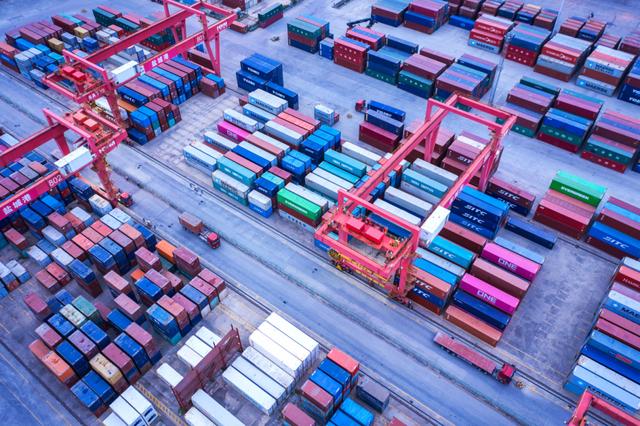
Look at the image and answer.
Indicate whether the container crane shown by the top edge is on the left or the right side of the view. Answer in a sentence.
The container crane shown by the top edge sits on the left side.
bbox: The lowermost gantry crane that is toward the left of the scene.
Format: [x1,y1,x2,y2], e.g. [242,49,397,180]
[0,106,128,219]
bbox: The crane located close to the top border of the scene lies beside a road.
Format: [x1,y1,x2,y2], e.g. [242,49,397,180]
[41,0,239,141]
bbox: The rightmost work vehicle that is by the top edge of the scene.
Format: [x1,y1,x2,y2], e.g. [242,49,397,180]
[346,11,382,32]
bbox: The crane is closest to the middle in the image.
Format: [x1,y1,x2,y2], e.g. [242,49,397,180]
[312,93,520,305]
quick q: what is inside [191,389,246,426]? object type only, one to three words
shipping container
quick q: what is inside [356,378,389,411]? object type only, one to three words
shipping container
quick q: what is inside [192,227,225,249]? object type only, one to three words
truck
